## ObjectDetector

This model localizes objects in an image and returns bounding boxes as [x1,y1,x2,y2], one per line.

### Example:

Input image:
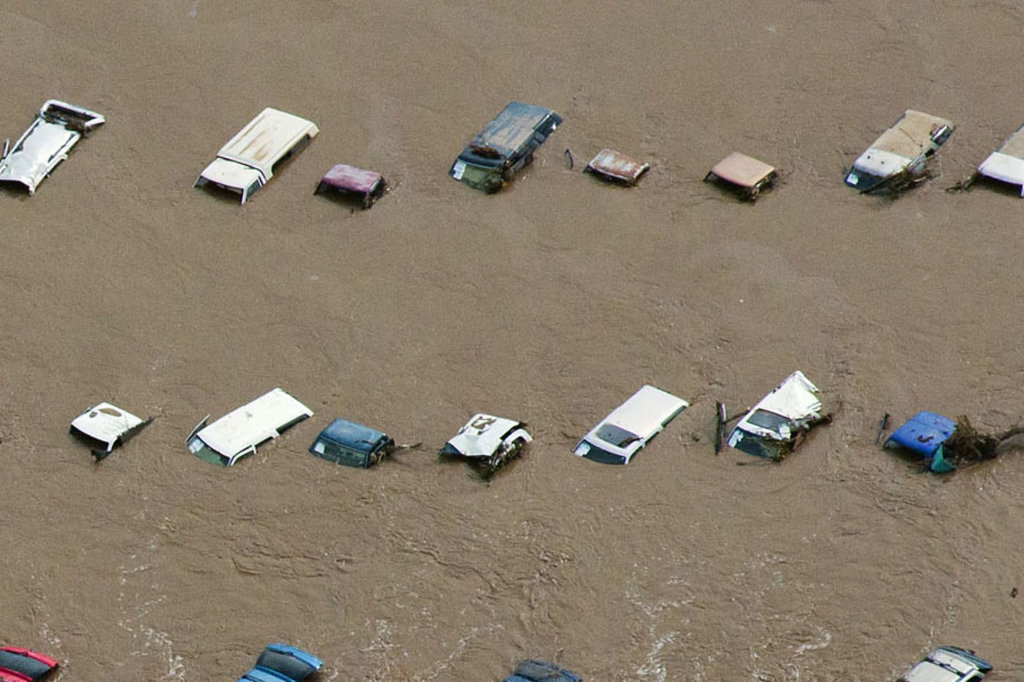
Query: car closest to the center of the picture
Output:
[442,413,531,465]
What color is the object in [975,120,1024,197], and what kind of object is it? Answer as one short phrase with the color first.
white car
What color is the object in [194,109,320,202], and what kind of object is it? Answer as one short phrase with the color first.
white truck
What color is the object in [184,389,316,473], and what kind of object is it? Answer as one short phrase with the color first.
white vehicle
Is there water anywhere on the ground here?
Yes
